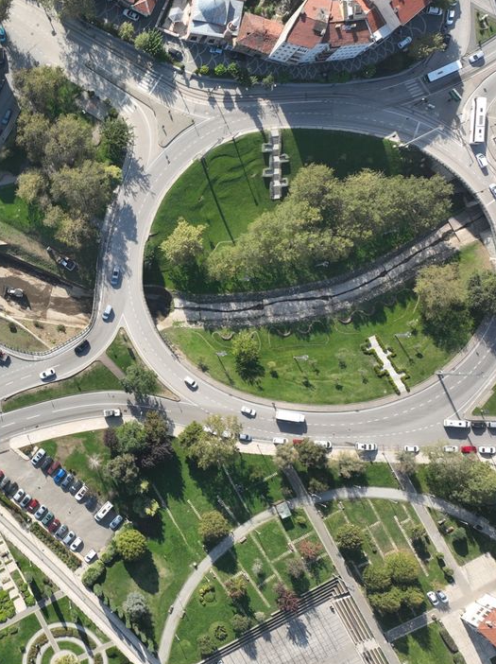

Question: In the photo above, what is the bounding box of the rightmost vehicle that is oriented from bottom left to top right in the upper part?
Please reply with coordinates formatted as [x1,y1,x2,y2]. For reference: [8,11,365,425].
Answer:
[468,52,484,65]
